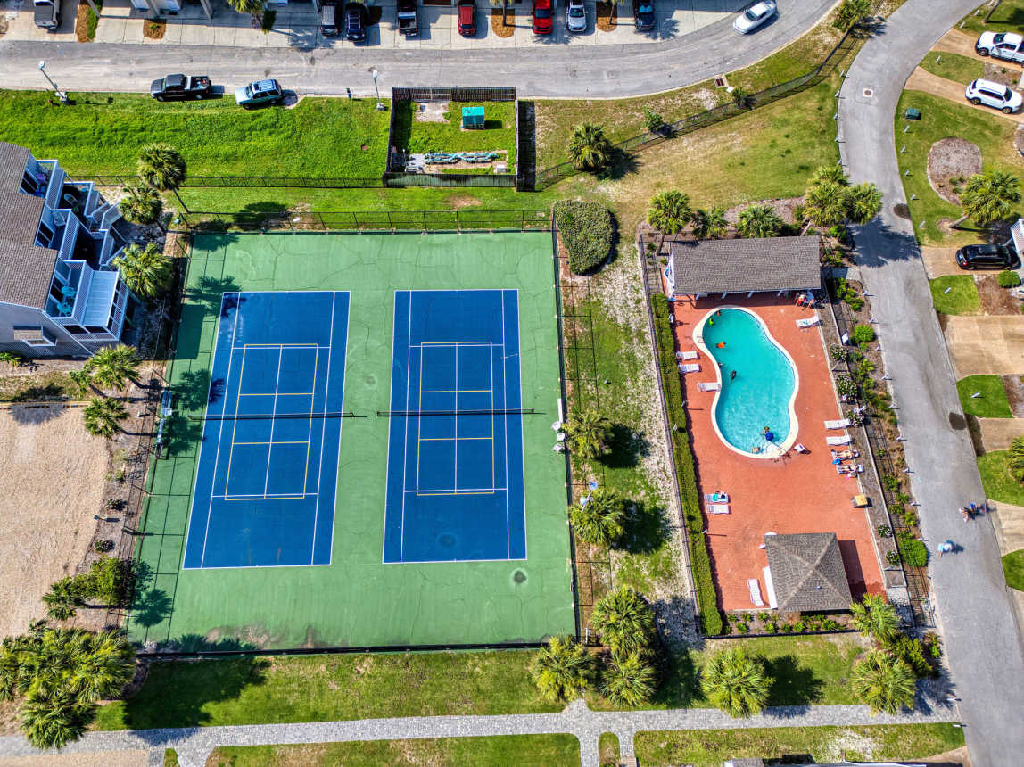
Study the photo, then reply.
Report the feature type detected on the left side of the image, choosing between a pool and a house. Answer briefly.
house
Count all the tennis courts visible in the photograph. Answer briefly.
2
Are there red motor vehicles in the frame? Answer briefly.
Yes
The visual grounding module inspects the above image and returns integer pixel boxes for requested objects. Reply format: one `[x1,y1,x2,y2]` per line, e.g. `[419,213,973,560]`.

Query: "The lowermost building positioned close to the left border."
[0,140,144,355]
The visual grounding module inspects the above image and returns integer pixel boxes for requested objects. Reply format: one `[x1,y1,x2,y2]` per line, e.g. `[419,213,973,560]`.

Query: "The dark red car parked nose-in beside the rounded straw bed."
[455,1,477,37]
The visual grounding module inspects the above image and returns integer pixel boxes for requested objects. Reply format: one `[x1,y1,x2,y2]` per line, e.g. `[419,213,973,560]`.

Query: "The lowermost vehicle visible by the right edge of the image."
[964,245,1024,272]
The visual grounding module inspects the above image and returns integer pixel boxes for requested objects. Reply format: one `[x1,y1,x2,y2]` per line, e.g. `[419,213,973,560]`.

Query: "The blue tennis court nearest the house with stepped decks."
[124,230,376,660]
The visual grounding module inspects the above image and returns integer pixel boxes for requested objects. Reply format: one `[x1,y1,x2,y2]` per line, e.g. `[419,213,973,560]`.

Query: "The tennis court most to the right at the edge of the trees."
[352,230,579,654]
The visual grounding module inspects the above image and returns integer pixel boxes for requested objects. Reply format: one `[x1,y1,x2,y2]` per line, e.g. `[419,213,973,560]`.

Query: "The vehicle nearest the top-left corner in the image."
[34,0,68,28]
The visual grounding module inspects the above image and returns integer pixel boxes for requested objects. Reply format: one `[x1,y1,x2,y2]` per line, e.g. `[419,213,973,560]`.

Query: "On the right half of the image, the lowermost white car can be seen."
[974,83,1024,113]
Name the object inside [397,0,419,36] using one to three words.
truck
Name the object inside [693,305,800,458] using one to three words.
swimming pool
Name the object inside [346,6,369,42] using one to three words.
car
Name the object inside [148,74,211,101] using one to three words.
truck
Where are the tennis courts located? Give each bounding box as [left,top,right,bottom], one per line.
[352,230,579,654]
[124,230,376,660]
